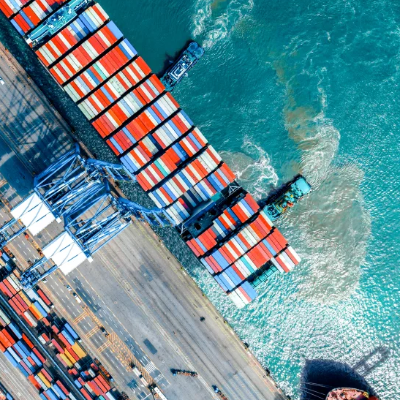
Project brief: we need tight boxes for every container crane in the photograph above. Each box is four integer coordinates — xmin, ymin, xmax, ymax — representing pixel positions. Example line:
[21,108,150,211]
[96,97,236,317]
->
[26,179,173,295]
[0,141,135,254]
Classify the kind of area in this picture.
port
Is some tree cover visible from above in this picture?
No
